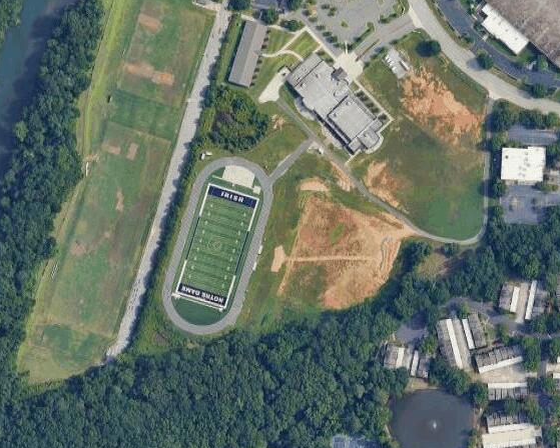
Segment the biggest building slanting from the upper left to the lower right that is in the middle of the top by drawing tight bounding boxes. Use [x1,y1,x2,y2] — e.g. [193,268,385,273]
[287,53,382,154]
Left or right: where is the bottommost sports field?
left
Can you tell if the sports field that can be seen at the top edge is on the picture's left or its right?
left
